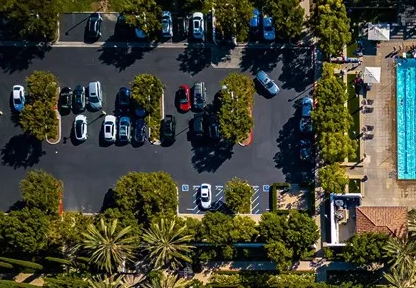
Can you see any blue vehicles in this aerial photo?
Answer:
Yes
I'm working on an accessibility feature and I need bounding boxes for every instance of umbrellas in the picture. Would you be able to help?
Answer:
[364,67,381,84]
[368,21,390,43]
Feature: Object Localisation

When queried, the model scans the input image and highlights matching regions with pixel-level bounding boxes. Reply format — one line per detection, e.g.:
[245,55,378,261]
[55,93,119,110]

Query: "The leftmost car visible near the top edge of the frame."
[85,10,101,38]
